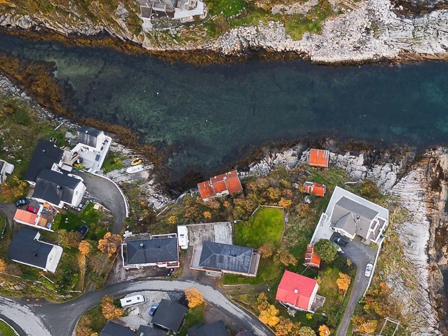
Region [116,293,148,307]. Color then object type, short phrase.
white camper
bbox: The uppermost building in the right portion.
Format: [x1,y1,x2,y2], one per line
[309,148,330,169]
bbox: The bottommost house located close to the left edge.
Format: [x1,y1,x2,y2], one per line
[9,229,67,268]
